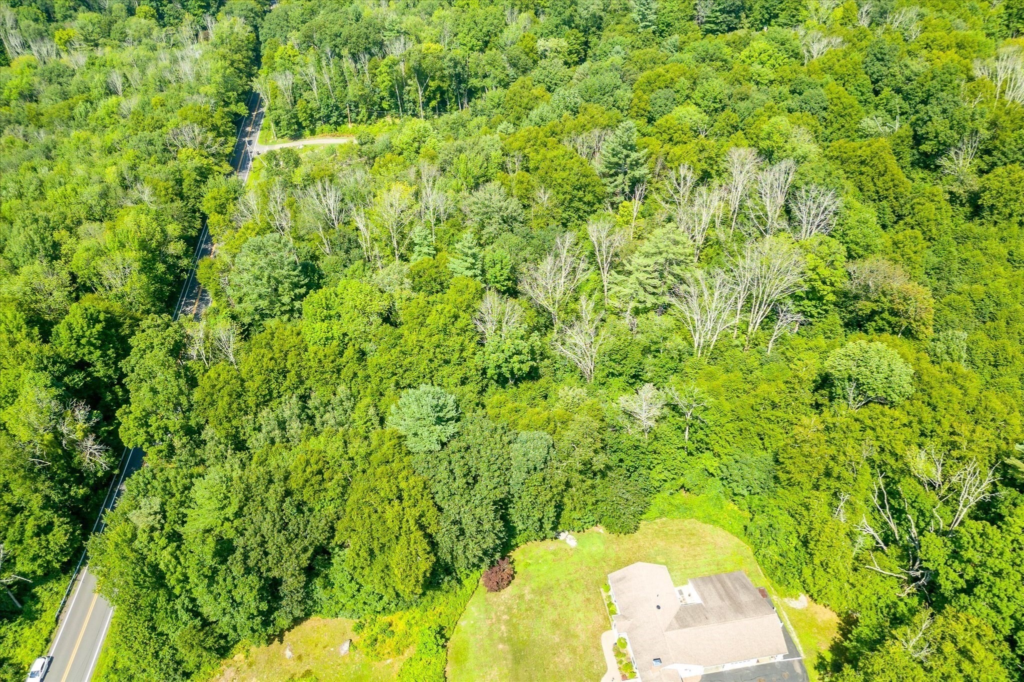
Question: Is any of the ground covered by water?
No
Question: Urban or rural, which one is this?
rural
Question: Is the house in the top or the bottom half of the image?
bottom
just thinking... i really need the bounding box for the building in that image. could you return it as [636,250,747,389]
[608,563,787,682]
